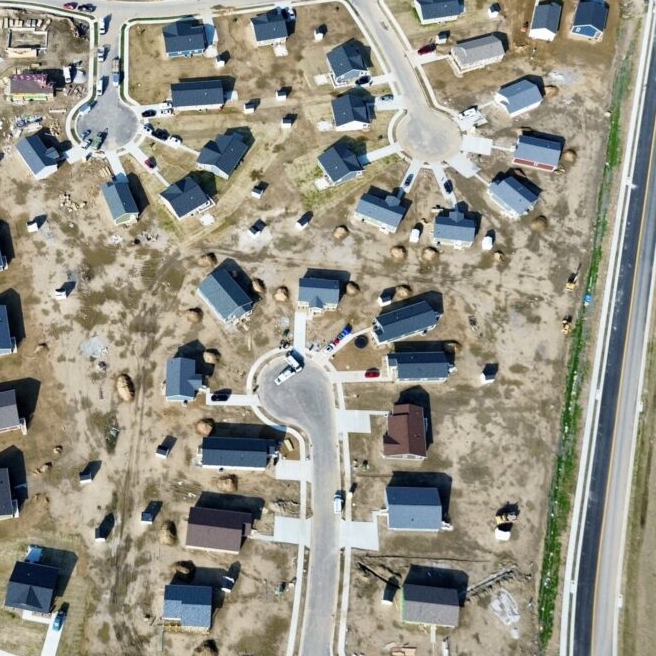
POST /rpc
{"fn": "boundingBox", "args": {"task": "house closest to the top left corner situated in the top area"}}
[8,68,52,99]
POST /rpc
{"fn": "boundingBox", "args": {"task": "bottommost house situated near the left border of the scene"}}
[5,551,60,620]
